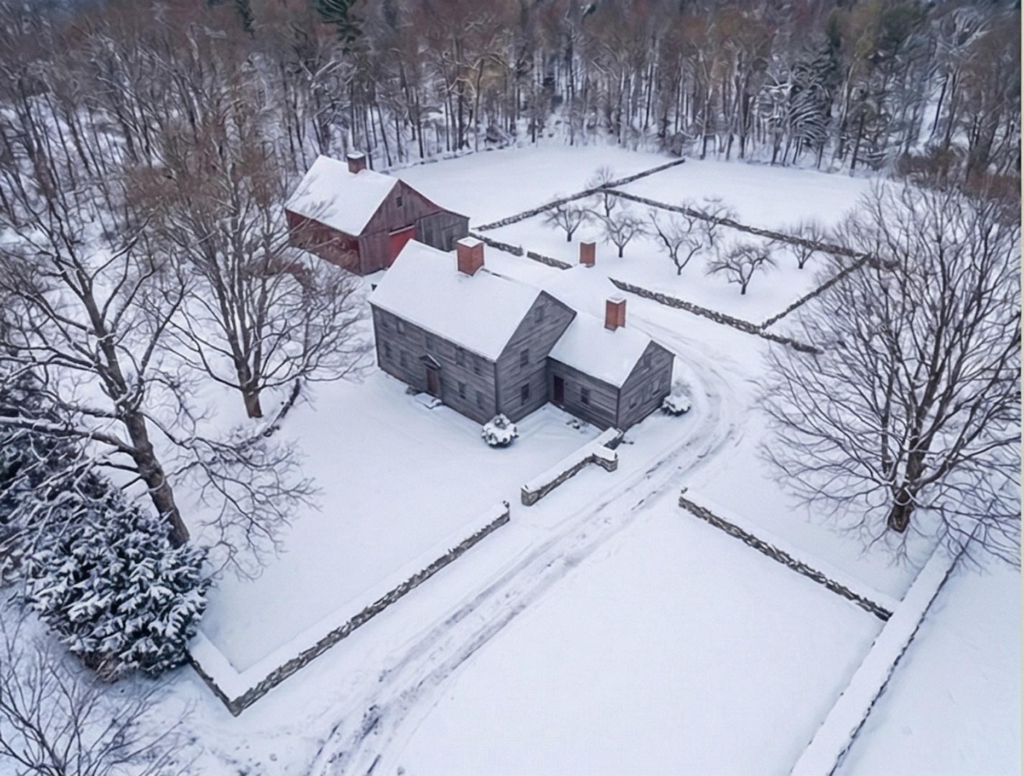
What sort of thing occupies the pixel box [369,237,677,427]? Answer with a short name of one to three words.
house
